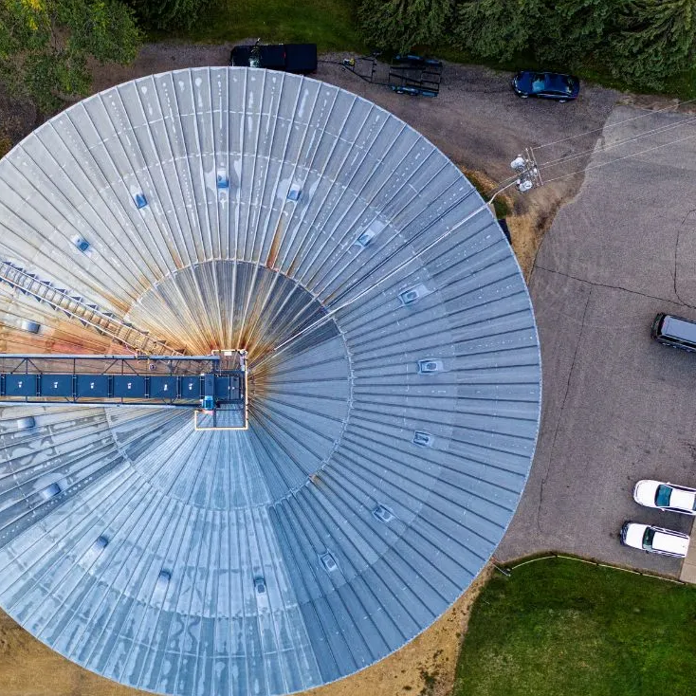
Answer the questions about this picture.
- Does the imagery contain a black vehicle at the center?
No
